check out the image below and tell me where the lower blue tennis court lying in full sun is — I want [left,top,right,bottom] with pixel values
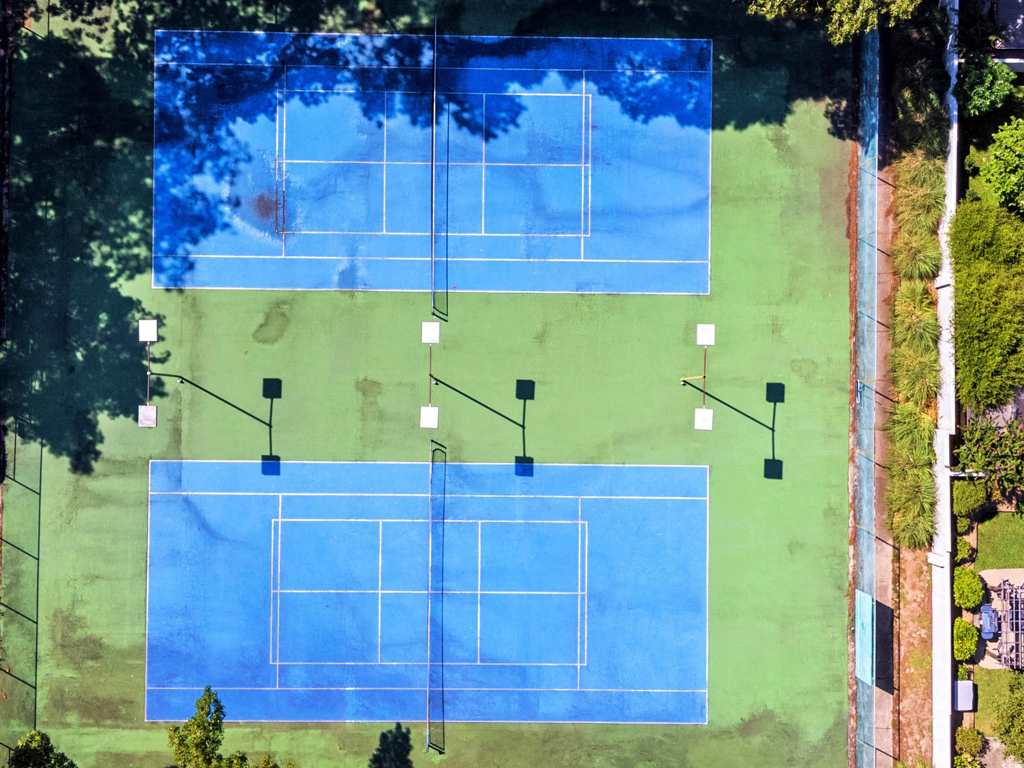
[146,461,709,724]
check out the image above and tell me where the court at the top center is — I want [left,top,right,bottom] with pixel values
[151,30,712,294]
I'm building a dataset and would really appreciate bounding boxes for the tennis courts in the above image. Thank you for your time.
[151,30,712,294]
[146,461,709,724]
